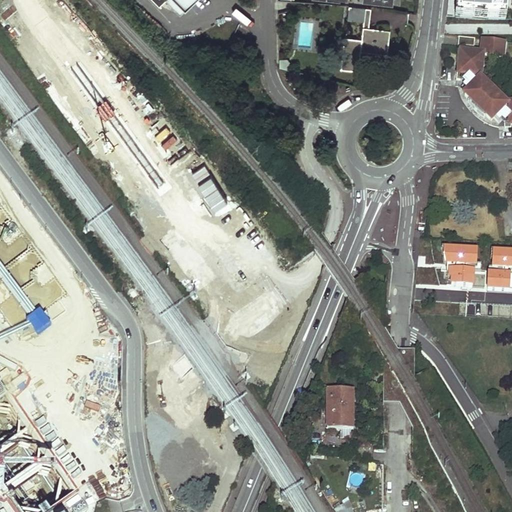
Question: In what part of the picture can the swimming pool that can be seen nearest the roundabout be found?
top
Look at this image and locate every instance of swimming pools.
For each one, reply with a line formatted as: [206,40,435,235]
[292,19,318,53]
[346,471,366,488]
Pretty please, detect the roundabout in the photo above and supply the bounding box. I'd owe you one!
[322,90,432,206]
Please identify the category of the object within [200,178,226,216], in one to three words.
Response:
building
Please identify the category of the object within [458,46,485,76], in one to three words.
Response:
house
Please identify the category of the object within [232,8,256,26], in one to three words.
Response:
vehicle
